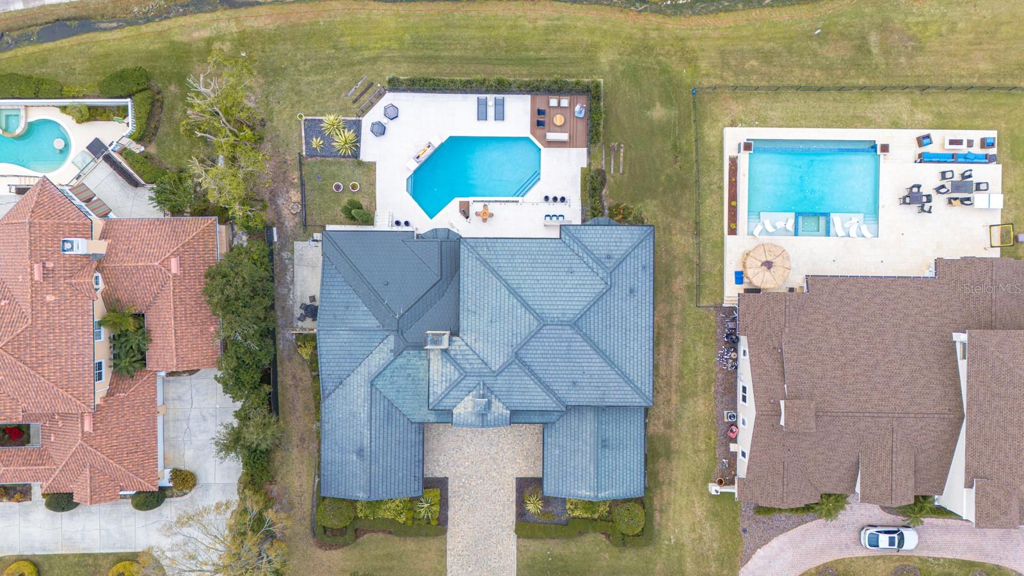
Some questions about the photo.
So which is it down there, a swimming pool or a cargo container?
swimming pool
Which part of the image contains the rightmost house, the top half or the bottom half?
bottom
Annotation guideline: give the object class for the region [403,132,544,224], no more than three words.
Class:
swimming pool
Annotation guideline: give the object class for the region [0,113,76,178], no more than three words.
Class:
swimming pool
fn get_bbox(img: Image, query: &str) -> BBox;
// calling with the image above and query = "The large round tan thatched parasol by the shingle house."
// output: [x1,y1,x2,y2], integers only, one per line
[752,242,800,289]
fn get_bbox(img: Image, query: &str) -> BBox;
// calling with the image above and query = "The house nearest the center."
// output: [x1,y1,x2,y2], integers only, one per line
[317,217,655,502]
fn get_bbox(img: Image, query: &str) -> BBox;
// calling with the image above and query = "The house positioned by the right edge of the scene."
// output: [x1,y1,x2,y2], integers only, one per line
[729,258,1024,529]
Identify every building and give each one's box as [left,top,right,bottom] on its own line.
[0,174,232,506]
[729,258,1024,529]
[317,217,655,502]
